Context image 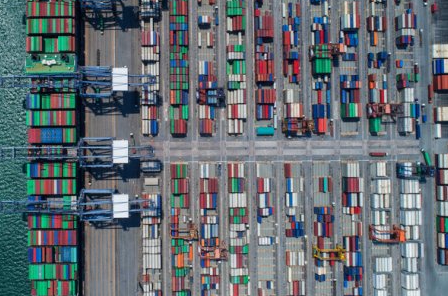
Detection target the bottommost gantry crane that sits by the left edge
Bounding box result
[0,183,154,223]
